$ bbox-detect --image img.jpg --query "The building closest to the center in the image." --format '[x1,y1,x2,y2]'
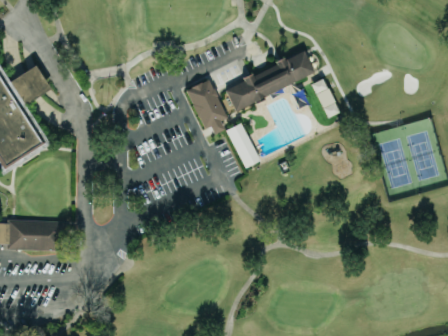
[227,124,260,169]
